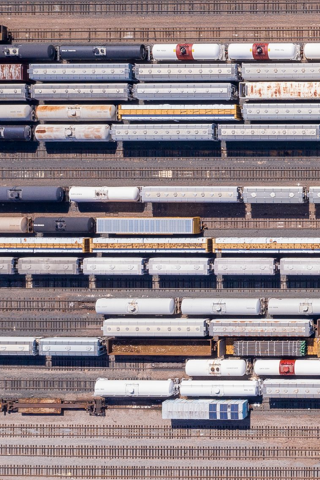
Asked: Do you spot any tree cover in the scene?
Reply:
No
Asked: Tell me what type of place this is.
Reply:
rail yard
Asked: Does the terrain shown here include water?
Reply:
No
